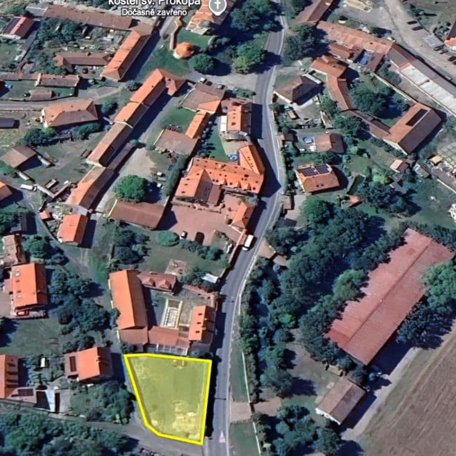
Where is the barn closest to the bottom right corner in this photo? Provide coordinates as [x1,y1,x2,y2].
[322,378,367,425]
